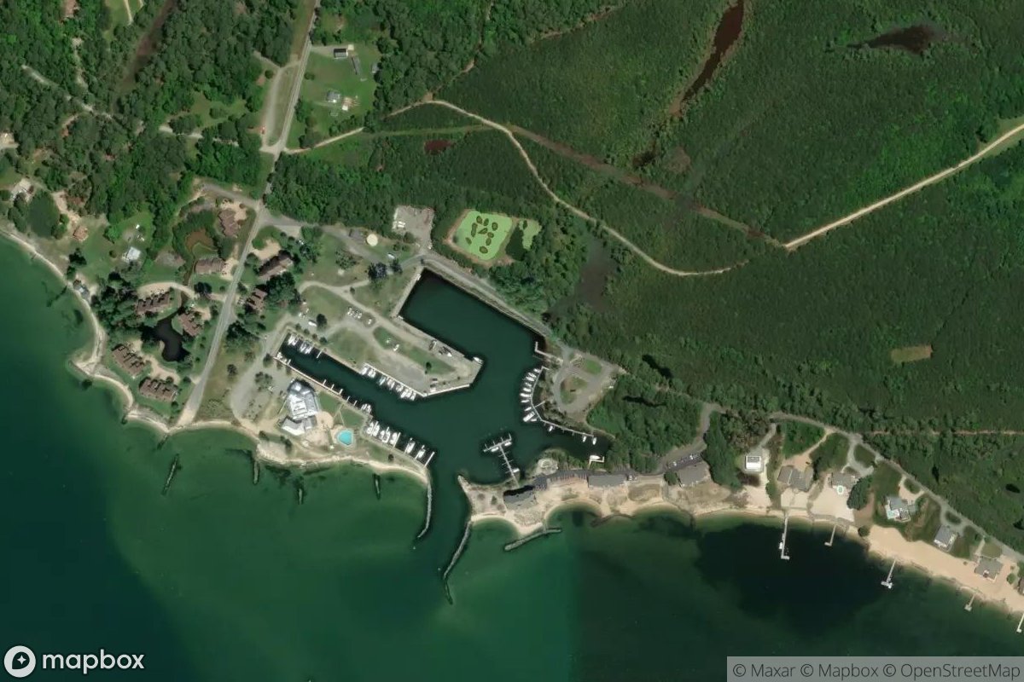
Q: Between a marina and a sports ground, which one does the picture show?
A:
marina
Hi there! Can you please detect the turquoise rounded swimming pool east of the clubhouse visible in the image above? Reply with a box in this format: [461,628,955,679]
[336,428,354,446]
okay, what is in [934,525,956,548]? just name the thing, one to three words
house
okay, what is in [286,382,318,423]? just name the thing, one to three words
building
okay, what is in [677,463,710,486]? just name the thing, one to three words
building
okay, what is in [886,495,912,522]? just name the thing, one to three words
house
